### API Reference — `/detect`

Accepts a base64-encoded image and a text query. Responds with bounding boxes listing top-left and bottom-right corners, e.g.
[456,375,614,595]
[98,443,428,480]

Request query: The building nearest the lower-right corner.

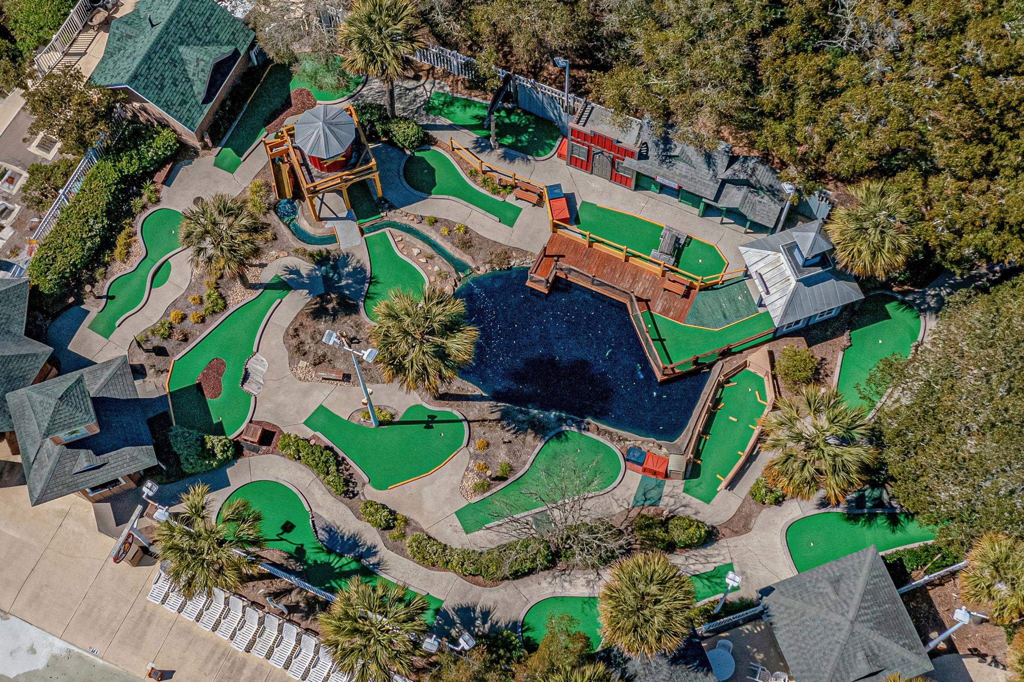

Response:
[758,544,935,682]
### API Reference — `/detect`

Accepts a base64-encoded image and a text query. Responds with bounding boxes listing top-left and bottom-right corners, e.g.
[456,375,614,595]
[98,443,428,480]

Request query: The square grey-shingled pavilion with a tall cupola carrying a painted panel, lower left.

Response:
[11,353,158,511]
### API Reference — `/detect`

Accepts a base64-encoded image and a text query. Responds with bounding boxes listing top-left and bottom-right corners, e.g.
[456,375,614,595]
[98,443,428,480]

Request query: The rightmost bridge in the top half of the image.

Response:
[325,219,362,249]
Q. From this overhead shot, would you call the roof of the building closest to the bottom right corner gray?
Yes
